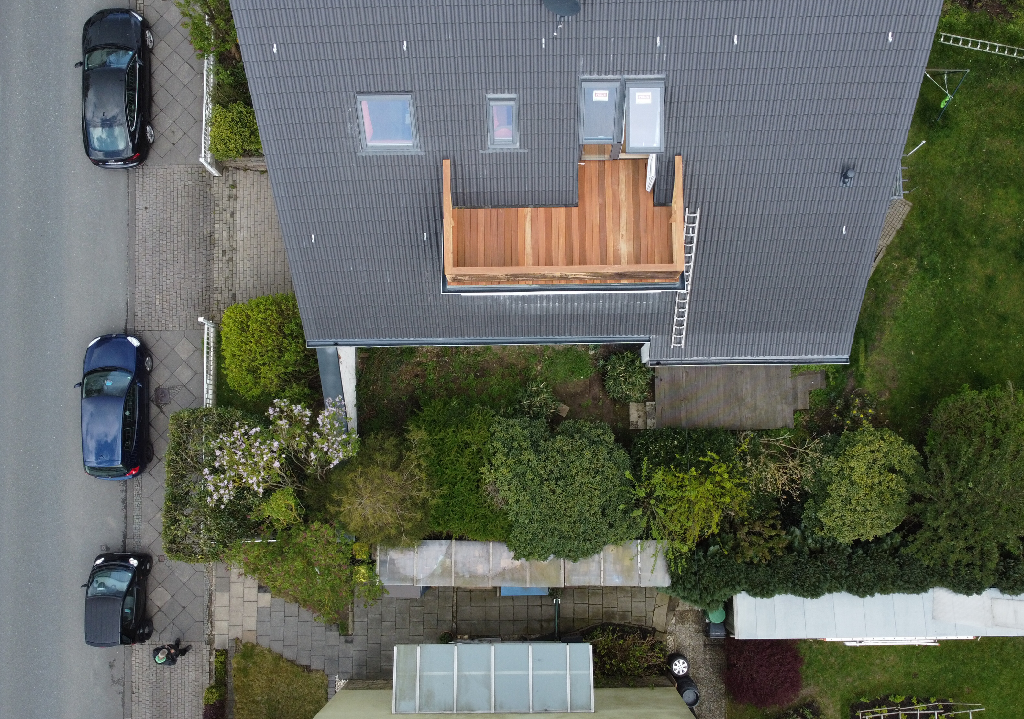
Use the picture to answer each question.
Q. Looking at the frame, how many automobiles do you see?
3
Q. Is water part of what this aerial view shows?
No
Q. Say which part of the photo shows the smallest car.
bottom left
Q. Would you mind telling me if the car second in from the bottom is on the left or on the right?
left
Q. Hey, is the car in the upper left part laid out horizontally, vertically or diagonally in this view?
vertically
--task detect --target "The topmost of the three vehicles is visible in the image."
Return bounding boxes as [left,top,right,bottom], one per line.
[72,8,156,173]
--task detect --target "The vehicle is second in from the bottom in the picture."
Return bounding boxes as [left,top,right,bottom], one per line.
[73,332,155,480]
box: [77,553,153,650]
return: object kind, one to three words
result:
car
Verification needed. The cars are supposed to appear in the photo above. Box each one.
[73,332,155,480]
[77,553,153,650]
[72,8,156,173]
